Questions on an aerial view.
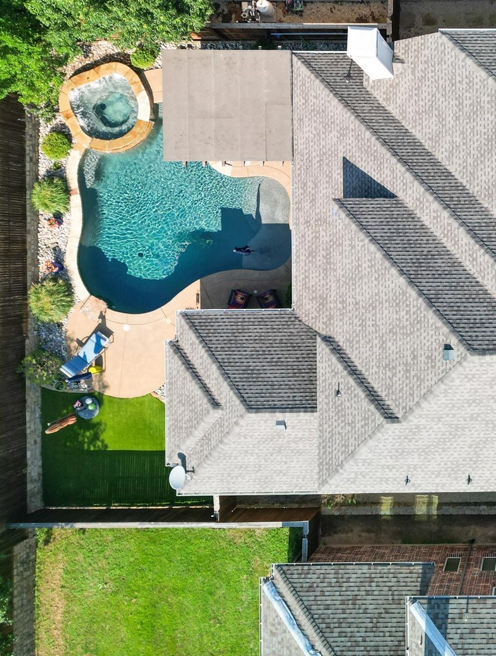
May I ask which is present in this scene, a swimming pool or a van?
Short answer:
swimming pool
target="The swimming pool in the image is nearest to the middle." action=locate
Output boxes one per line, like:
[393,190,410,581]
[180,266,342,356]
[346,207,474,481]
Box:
[66,104,290,314]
